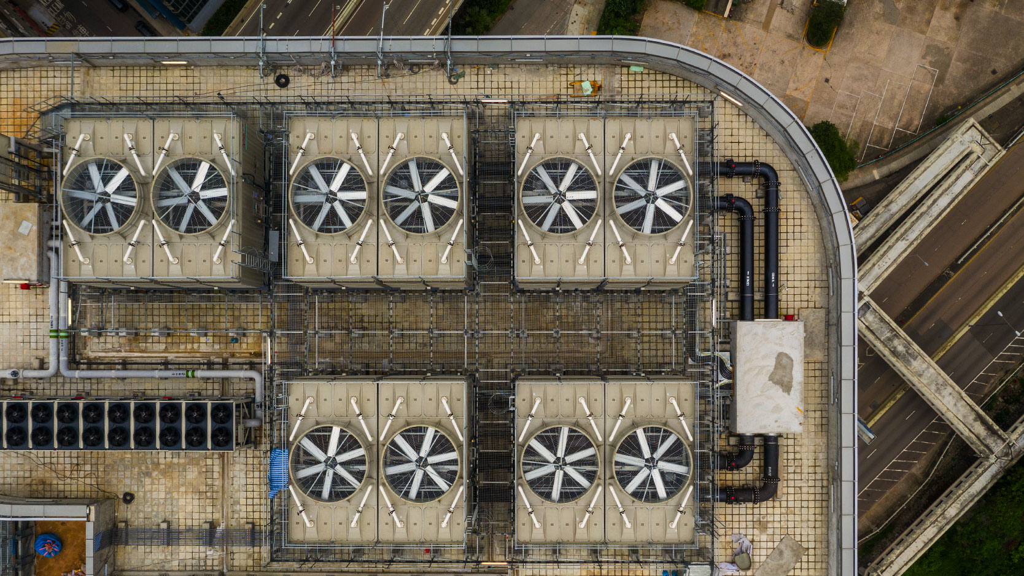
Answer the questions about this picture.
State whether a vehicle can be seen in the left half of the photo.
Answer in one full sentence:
Yes, in the left half of the photo there is a vehicle.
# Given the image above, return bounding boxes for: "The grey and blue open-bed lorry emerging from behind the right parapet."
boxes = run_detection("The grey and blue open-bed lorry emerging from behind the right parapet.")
[857,411,881,445]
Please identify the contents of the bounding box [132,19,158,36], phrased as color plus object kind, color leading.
black car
